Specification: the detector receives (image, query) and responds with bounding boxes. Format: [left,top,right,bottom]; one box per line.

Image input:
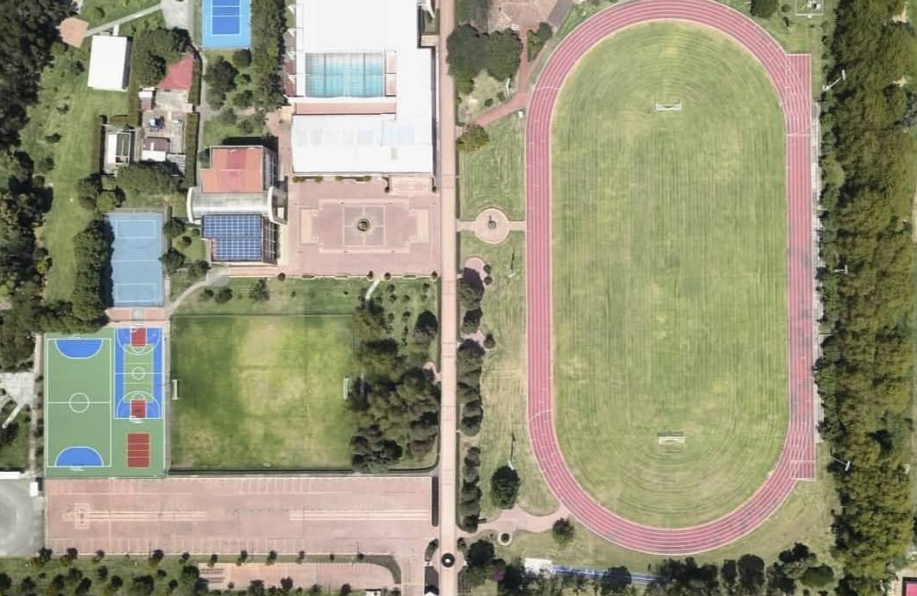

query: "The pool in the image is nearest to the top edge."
[308,57,386,98]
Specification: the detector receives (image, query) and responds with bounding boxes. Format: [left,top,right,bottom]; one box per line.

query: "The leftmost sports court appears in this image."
[44,327,115,477]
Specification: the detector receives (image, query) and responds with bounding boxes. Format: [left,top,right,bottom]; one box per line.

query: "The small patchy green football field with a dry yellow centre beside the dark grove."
[170,316,354,470]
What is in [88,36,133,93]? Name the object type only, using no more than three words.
shed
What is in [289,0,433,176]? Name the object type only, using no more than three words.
building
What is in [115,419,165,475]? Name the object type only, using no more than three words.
sports court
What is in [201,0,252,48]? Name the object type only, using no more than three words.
tennis court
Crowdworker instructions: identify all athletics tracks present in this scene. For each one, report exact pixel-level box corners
[527,0,814,554]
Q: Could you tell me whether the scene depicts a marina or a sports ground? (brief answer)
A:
sports ground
